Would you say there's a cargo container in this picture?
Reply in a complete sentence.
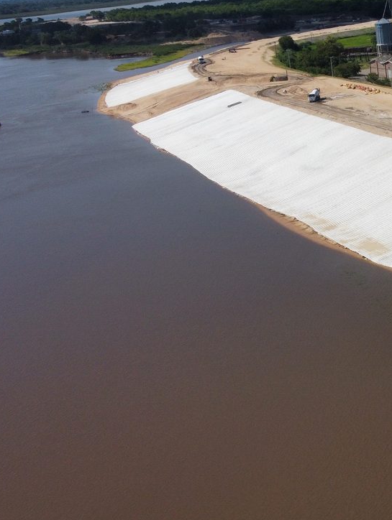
No, the frame has no cargo container in it.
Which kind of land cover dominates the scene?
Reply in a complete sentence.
The largest share of the image is taken up by water.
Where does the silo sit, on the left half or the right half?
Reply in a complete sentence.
The silo is on the right side of the image.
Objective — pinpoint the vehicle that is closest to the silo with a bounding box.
[302,85,322,101]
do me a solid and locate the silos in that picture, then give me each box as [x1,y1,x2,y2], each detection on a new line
[371,13,392,54]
